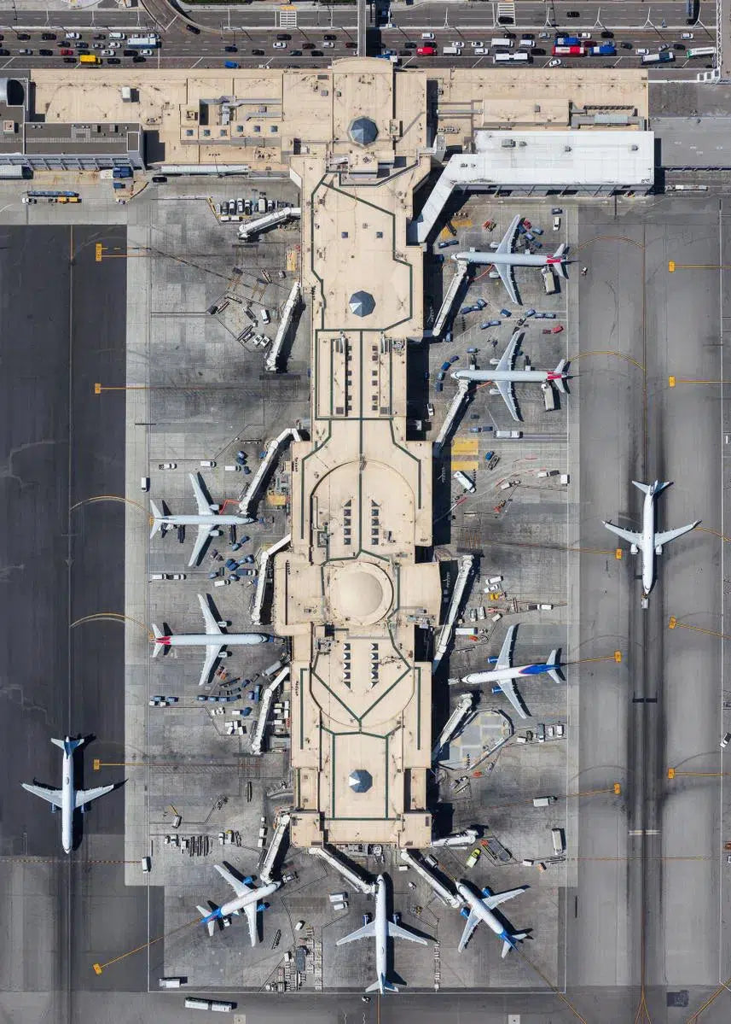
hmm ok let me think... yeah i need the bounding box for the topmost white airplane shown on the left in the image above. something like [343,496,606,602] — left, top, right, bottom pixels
[150,471,255,564]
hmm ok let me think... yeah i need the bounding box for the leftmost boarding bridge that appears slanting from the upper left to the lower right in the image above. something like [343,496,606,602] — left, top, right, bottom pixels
[310,848,378,893]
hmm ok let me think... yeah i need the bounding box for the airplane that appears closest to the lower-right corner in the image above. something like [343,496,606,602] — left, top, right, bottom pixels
[455,879,530,961]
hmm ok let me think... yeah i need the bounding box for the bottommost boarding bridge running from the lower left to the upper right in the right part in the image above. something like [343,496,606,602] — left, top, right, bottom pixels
[432,691,474,758]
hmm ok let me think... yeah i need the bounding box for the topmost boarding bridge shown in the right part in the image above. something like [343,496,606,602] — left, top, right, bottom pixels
[431,260,469,337]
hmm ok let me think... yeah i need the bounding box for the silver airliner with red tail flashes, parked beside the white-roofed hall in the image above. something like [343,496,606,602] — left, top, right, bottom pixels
[451,215,570,304]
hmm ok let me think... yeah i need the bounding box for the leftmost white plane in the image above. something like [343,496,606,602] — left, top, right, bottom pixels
[20,737,112,854]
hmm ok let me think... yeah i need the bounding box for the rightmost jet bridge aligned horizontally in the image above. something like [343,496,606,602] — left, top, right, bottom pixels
[432,830,482,847]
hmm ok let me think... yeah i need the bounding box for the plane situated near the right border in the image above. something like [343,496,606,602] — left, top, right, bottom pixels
[604,480,699,594]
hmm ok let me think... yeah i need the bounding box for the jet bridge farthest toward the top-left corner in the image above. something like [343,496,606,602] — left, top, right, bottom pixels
[237,207,301,245]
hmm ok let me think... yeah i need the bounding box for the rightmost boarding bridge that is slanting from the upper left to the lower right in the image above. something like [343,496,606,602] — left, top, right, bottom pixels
[399,848,468,905]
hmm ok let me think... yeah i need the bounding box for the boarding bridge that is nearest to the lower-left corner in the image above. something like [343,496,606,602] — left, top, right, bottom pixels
[264,810,290,886]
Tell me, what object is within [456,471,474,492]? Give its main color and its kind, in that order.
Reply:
white vehicle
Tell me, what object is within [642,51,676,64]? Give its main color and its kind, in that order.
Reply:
white vehicle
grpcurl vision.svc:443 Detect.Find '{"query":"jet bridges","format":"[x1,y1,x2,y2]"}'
[431,260,469,337]
[237,207,301,245]
[432,830,482,847]
[432,691,474,758]
[251,663,291,757]
[238,425,305,518]
[432,553,474,671]
[264,810,290,886]
[310,848,378,893]
[399,848,468,905]
[265,282,302,377]
[433,378,469,450]
[251,531,292,628]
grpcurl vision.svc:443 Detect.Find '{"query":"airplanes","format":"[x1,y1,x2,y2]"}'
[451,331,570,421]
[451,215,570,304]
[461,624,565,718]
[455,879,530,961]
[195,867,281,947]
[148,593,269,684]
[20,737,112,854]
[150,471,255,564]
[604,480,699,594]
[337,874,427,996]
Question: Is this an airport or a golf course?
airport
